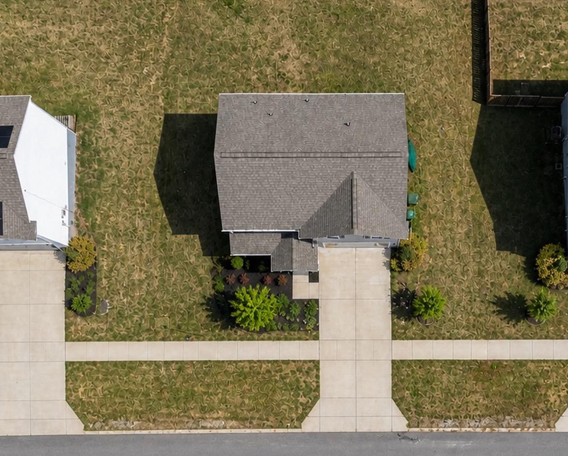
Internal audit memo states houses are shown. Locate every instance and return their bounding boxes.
[213,92,410,271]
[0,95,73,253]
